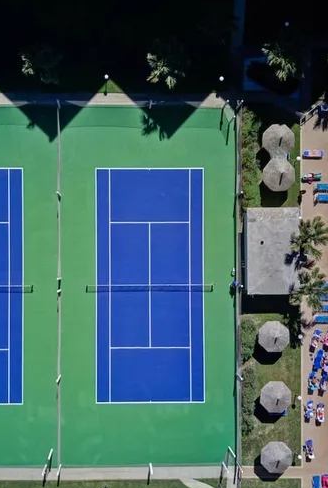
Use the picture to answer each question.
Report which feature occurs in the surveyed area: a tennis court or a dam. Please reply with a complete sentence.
I can see a tennis court in this picture.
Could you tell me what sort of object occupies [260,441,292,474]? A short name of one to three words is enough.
umbrella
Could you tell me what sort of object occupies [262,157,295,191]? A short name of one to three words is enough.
umbrella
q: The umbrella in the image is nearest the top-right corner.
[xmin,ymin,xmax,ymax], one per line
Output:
[262,125,295,157]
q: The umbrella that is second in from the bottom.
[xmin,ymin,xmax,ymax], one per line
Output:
[259,380,292,414]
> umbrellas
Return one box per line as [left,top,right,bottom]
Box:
[259,380,292,414]
[262,125,295,157]
[260,441,292,474]
[262,157,295,191]
[257,320,291,353]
